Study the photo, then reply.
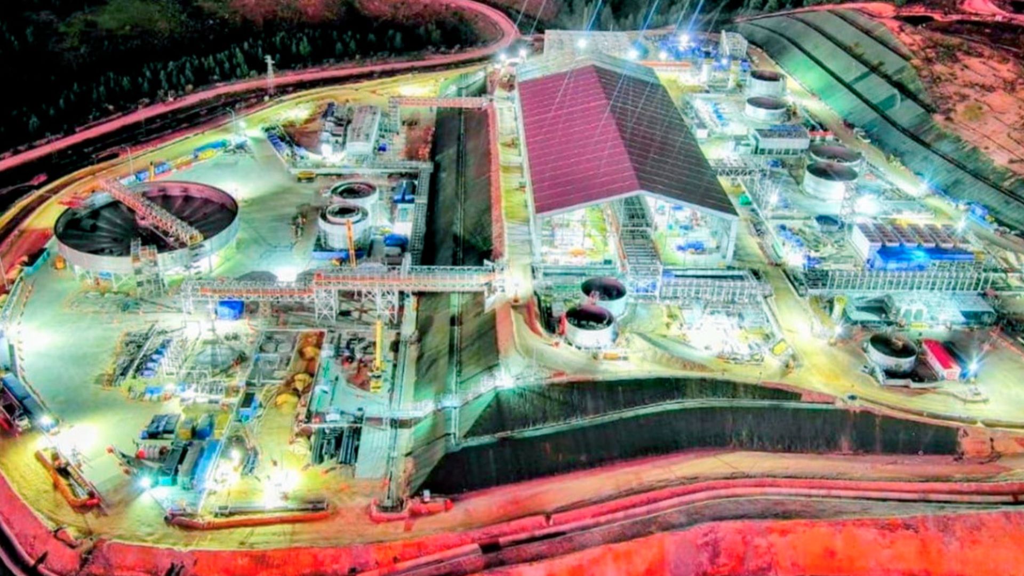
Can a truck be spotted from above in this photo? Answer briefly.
Yes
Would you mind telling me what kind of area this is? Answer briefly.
industrial area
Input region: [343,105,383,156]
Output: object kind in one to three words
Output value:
shed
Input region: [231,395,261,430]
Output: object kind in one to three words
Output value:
truck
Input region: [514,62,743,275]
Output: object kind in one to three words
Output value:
building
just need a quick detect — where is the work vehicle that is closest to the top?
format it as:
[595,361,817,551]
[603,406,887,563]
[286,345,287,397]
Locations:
[490,73,515,86]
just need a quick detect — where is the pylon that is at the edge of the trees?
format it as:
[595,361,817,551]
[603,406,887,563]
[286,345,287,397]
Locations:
[255,51,274,101]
